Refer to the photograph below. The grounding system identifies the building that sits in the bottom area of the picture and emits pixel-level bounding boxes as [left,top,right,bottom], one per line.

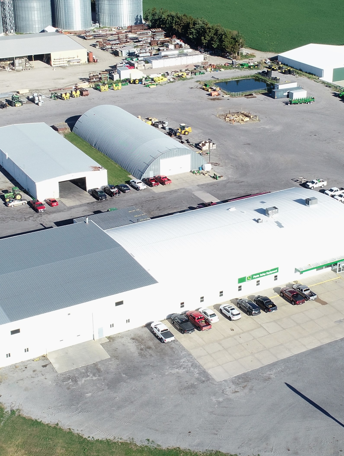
[0,185,344,366]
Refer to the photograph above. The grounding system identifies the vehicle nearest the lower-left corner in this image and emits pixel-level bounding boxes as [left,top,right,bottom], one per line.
[149,319,174,341]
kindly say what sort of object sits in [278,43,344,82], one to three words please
shed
